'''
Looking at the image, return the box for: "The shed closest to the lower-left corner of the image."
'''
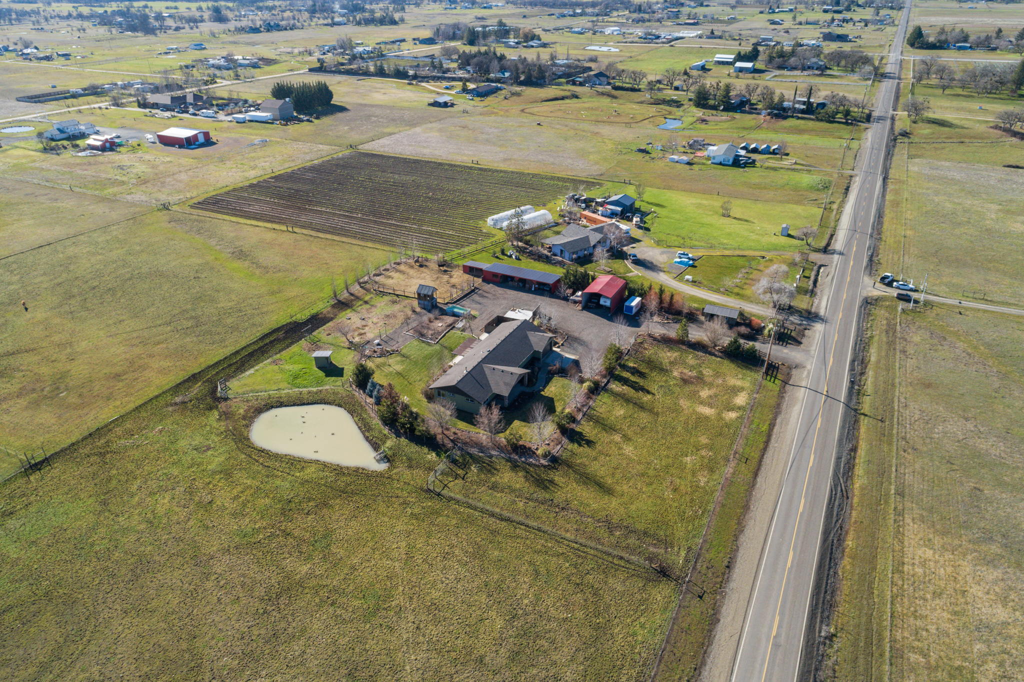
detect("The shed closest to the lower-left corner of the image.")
[310,347,334,370]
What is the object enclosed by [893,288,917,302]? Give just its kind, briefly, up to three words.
car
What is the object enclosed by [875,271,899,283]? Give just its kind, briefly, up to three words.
vehicle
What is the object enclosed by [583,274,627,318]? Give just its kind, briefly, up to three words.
barn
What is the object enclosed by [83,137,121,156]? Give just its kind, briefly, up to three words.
building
